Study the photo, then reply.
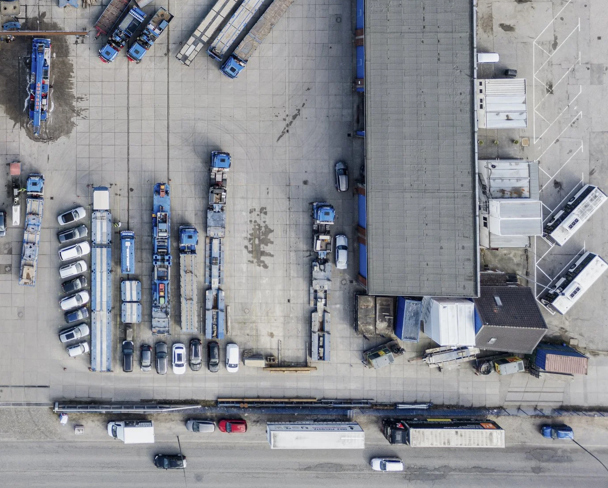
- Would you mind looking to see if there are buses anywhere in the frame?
Yes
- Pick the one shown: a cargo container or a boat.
cargo container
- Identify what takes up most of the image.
paved ground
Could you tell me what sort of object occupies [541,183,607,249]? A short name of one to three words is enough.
bus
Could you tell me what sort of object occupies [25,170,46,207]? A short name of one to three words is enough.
truck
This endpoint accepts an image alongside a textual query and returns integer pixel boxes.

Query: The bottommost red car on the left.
[218,418,247,433]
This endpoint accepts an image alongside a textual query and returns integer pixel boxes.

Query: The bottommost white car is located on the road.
[369,456,403,472]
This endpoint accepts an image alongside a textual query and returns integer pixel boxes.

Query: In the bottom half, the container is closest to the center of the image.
[395,296,422,341]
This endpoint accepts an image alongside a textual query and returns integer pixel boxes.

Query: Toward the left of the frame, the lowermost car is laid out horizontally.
[154,454,186,469]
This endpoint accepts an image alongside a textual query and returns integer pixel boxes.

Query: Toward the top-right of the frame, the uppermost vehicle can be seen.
[479,51,501,65]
